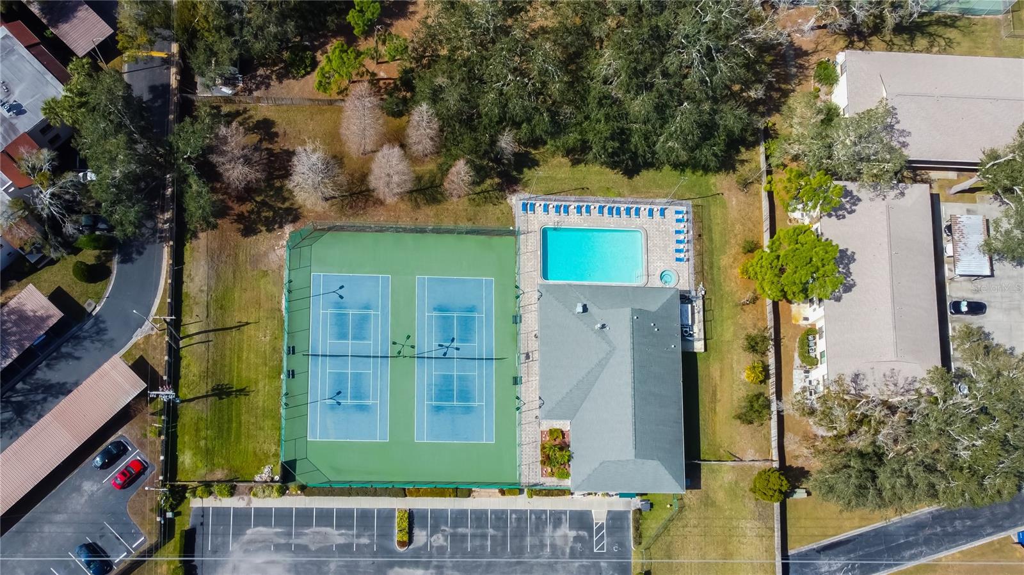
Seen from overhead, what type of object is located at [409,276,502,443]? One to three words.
tennis court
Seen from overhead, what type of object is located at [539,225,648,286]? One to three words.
swimming pool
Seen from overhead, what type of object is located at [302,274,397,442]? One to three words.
tennis court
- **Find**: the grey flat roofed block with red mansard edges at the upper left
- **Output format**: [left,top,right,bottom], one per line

[0,20,82,189]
